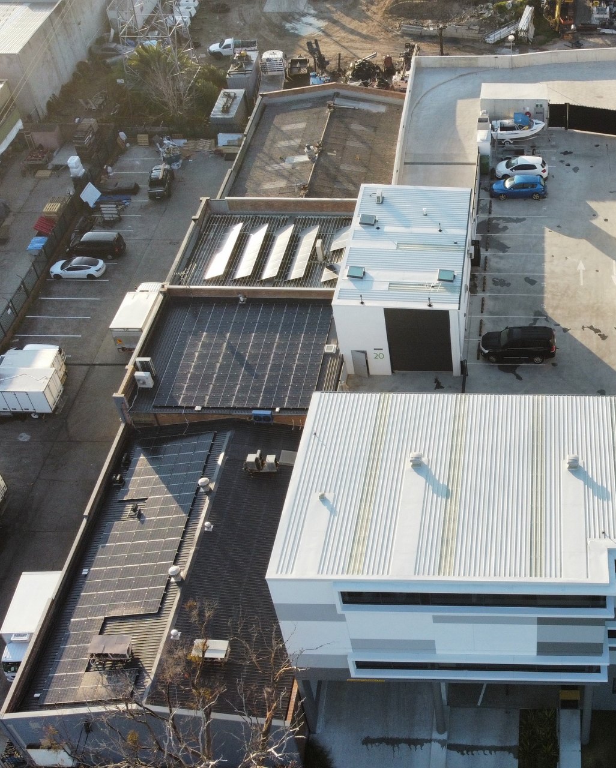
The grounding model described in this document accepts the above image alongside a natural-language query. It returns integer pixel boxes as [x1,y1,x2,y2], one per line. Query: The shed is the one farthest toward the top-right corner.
[481,81,548,130]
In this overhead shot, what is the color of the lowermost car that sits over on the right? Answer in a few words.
black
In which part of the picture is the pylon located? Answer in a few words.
top left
